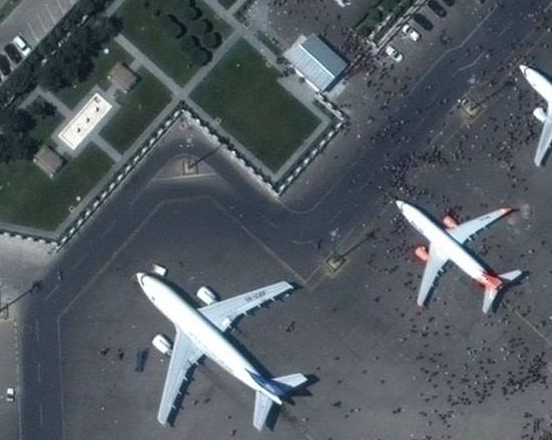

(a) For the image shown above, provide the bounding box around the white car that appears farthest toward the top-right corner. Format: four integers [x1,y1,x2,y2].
[401,24,421,42]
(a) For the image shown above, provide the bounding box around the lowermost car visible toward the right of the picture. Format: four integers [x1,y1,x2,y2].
[385,46,404,63]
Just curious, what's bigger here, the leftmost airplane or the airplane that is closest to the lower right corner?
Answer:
the leftmost airplane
